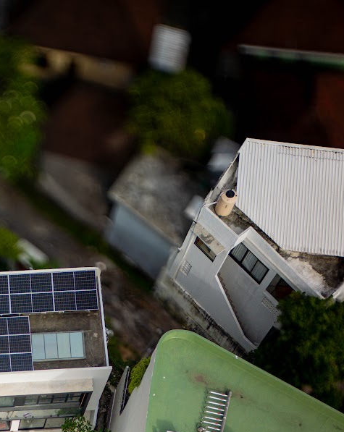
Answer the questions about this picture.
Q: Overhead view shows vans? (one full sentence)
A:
No, there is no van in the image.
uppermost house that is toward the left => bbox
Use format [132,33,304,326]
[9,0,180,85]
